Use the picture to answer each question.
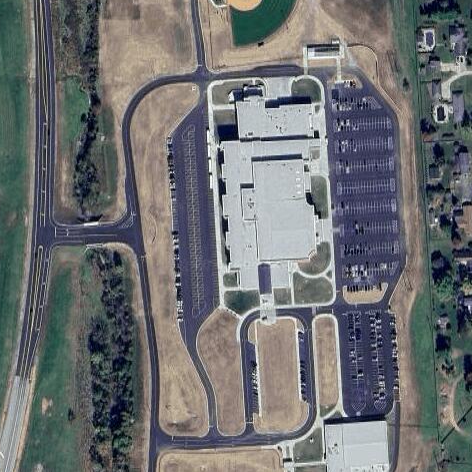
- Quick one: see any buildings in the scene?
Yes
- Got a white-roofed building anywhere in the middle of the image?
Yes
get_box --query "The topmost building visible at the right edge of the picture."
[450,27,466,53]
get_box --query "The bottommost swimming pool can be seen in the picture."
[433,104,450,123]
